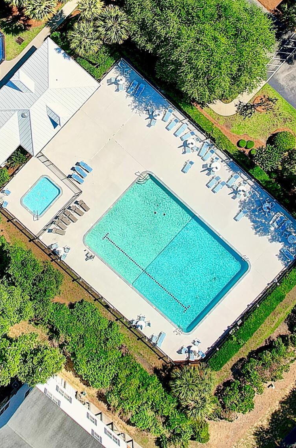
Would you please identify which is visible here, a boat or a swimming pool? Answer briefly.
swimming pool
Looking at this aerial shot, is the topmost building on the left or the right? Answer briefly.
left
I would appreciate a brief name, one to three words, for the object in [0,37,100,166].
building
